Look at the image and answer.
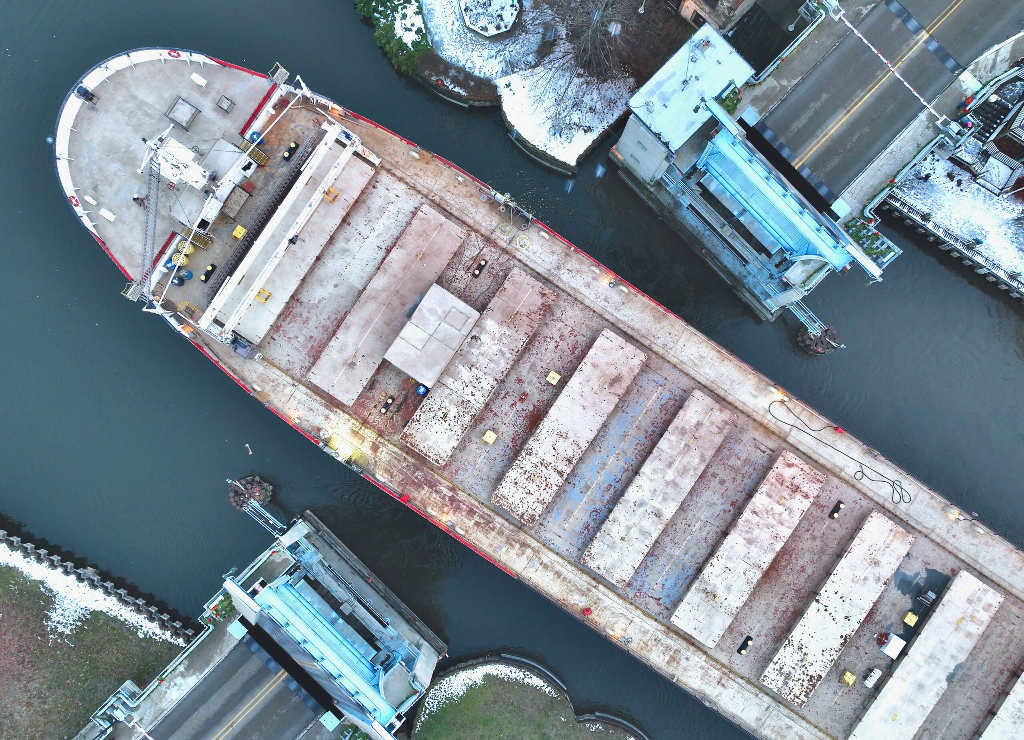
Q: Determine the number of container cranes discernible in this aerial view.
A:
1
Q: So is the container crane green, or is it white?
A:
white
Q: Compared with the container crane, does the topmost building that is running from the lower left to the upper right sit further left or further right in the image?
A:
on its right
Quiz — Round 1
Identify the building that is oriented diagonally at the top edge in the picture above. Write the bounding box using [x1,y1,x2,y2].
[599,22,756,183]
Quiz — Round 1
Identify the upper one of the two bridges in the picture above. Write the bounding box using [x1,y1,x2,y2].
[616,102,883,322]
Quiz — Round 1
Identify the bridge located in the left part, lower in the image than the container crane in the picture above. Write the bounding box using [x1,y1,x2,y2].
[220,508,451,740]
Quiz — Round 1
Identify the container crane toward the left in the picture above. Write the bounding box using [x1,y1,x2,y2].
[175,106,385,363]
